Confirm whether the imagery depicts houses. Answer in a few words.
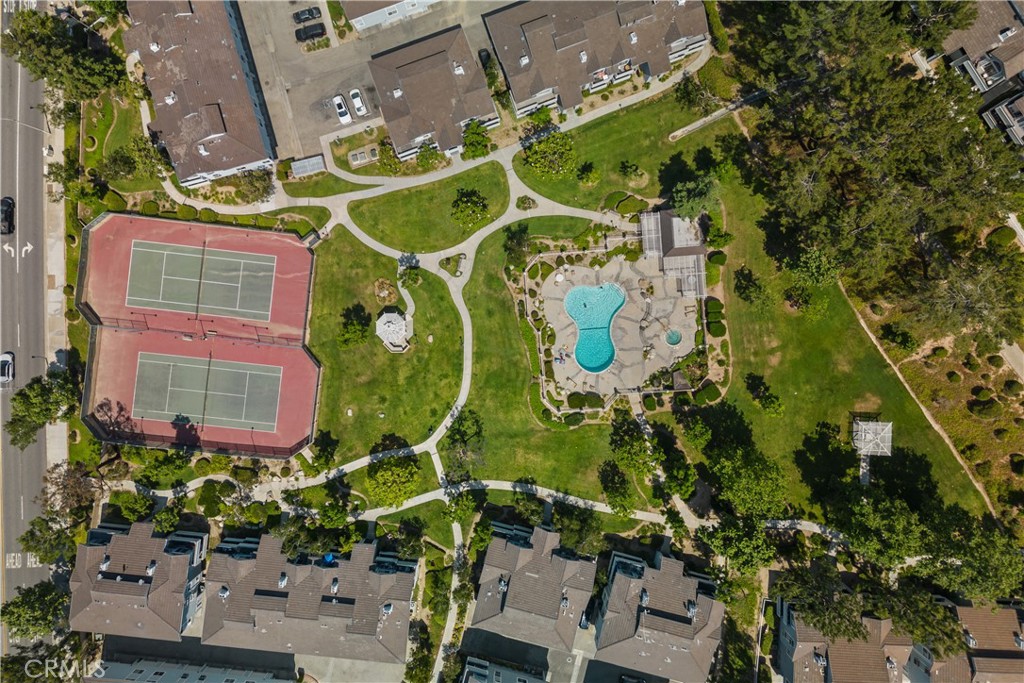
Yes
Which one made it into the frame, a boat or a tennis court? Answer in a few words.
tennis court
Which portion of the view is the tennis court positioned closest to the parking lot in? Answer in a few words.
left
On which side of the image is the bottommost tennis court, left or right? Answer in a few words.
left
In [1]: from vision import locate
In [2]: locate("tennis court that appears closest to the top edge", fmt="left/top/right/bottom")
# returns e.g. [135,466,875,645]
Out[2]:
[85,216,310,345]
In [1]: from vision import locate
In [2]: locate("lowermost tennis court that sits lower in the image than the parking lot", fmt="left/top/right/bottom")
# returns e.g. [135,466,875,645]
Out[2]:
[95,326,314,455]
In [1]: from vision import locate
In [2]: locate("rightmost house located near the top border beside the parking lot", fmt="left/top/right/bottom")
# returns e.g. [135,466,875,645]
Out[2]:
[482,0,707,120]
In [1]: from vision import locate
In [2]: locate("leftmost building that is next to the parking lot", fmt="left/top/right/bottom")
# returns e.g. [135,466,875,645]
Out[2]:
[122,0,275,197]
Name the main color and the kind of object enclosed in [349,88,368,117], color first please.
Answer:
white car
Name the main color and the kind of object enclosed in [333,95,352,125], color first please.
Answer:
white car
